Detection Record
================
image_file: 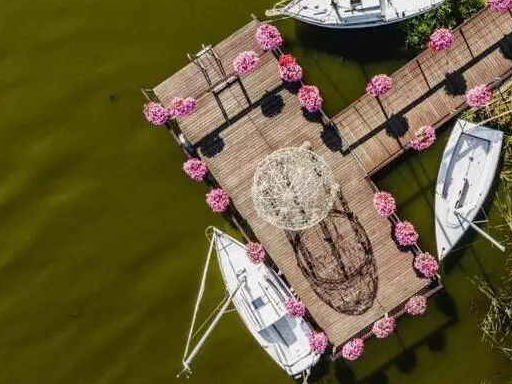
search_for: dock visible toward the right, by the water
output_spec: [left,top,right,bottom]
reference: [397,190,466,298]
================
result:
[137,4,512,370]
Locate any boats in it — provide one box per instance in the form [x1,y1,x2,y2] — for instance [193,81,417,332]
[433,118,503,261]
[171,226,341,381]
[255,0,446,29]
